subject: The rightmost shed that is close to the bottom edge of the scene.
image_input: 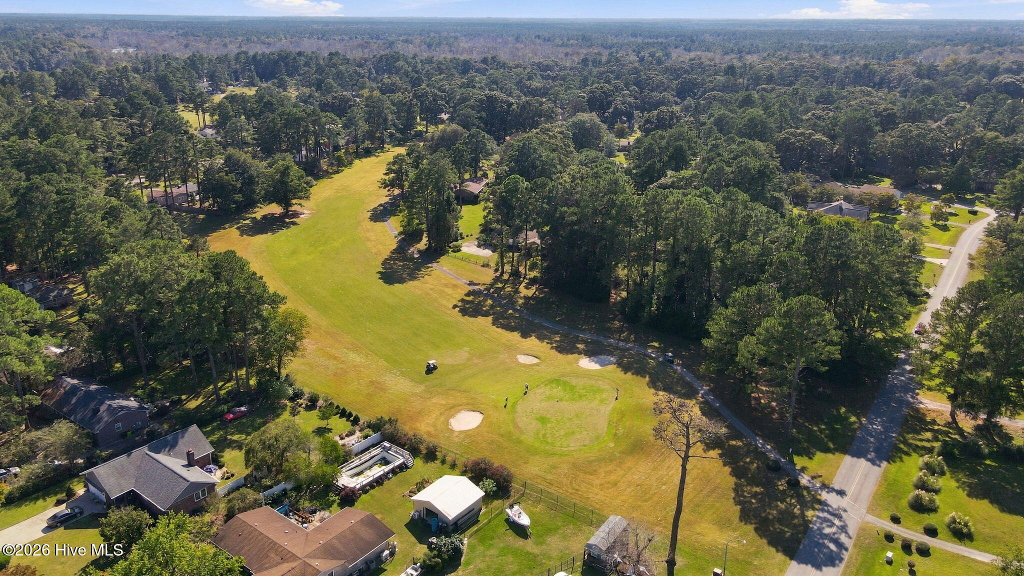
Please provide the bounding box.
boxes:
[586,513,630,564]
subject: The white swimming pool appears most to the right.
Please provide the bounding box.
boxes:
[329,439,412,497]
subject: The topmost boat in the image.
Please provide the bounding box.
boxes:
[499,500,533,534]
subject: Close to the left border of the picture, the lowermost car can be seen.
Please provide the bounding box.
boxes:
[44,506,85,528]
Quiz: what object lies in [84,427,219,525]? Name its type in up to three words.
house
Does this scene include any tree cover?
Yes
